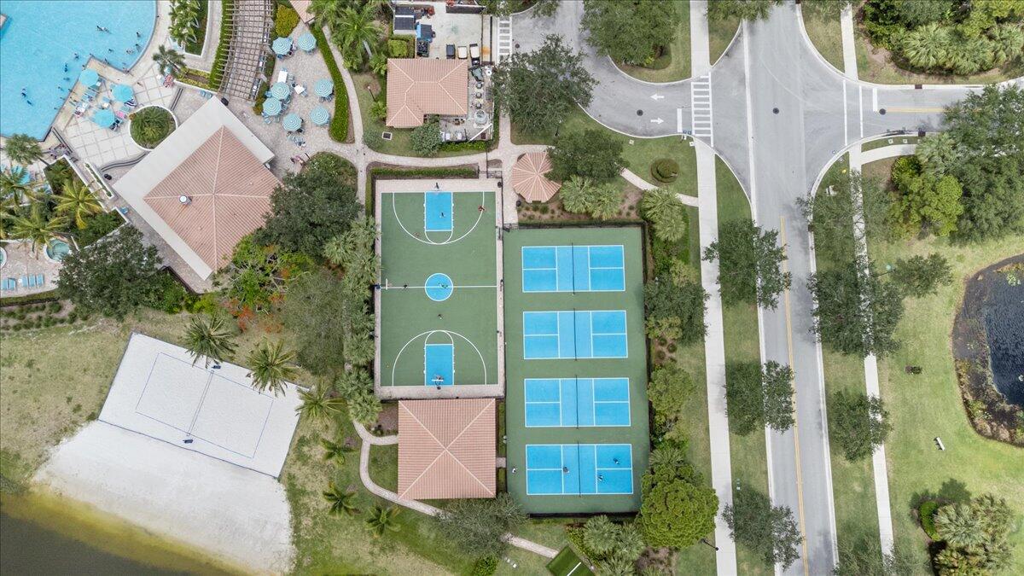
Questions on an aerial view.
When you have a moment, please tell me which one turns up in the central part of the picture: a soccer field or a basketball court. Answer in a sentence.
There is a basketball court in the central part of the picture.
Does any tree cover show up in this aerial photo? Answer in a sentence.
Yes, tree cover shows up in the scene.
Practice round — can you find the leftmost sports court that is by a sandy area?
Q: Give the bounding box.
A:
[97,332,307,477]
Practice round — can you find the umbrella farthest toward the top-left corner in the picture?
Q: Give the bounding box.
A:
[80,69,102,88]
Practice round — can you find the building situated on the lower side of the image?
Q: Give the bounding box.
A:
[397,398,497,500]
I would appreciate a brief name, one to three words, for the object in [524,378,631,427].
sports court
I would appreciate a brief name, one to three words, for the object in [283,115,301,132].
umbrella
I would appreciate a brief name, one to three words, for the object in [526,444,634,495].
sports court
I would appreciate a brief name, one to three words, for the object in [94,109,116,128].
umbrella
